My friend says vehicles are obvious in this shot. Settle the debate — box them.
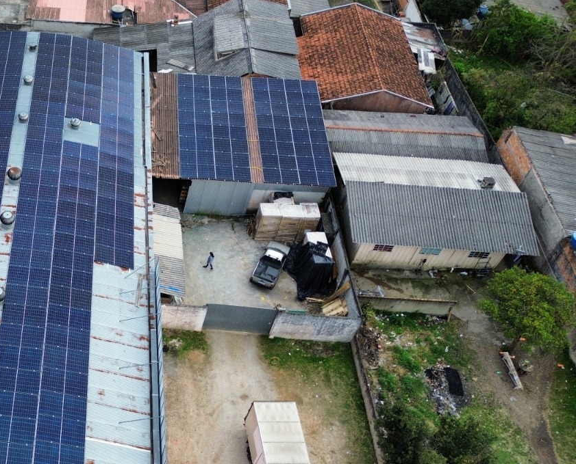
[257,236,293,292]
[245,399,316,464]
